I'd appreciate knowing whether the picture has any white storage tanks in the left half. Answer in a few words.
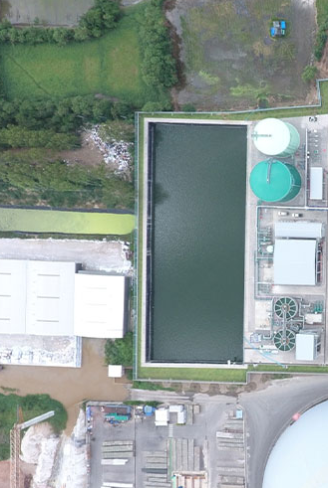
No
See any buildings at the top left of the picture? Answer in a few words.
No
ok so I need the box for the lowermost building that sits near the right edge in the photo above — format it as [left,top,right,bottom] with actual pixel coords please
[294,333,319,362]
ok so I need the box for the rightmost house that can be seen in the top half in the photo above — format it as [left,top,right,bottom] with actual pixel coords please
[309,166,325,201]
